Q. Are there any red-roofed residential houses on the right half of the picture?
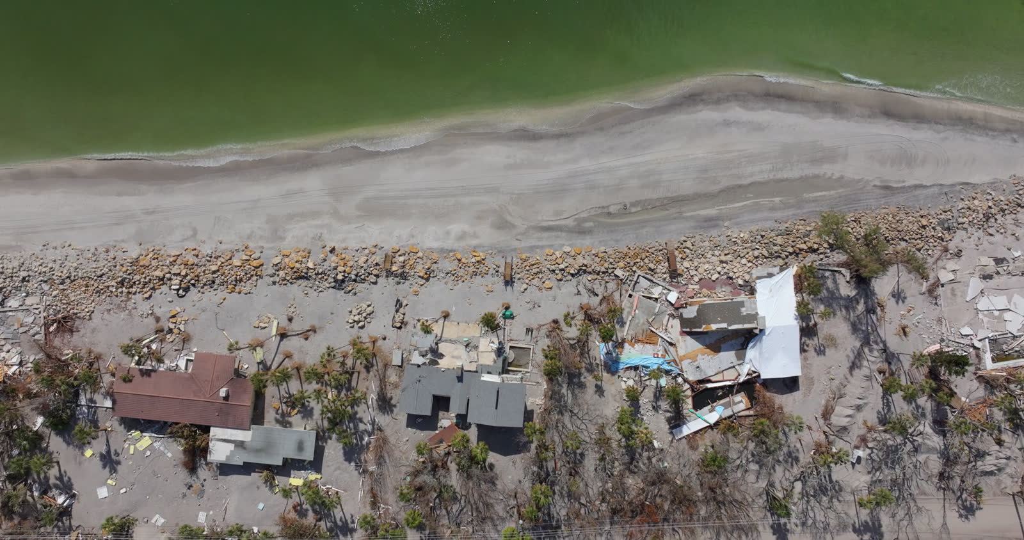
No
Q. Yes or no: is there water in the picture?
Yes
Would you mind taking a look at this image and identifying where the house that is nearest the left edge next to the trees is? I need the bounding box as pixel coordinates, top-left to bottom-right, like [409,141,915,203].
[112,352,257,429]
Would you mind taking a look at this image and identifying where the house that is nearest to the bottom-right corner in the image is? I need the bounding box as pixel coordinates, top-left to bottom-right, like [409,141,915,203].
[739,267,801,381]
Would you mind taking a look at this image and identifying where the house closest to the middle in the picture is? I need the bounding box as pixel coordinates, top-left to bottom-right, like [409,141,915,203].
[399,357,526,428]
